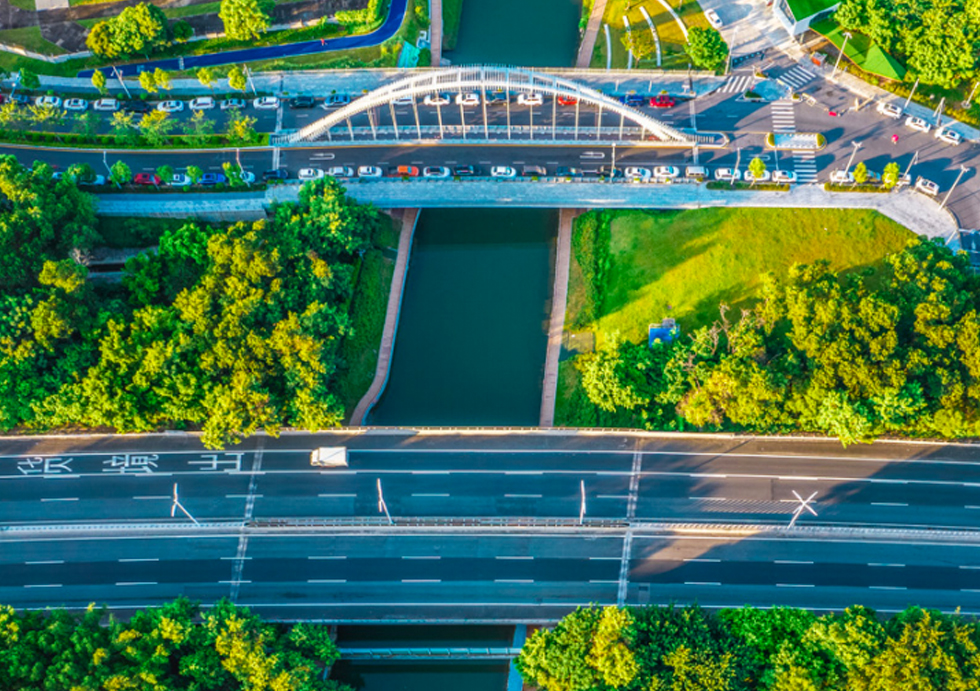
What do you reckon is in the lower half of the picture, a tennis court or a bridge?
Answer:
bridge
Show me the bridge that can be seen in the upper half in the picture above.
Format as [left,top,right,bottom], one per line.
[256,65,701,213]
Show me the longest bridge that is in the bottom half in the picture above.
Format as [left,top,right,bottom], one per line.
[225,426,645,626]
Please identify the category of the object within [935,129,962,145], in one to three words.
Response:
car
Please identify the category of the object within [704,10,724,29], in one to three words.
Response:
car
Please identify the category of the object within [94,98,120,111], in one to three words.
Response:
vehicle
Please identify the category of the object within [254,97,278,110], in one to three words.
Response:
vehicle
